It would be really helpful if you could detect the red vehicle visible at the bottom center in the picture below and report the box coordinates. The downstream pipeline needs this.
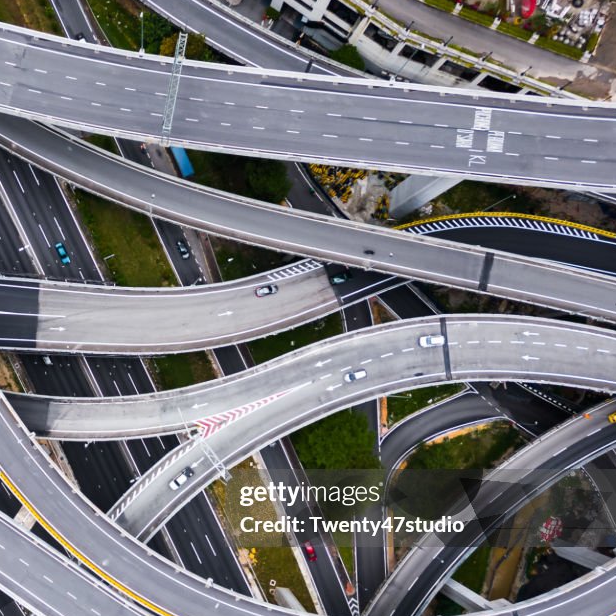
[304,543,318,565]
